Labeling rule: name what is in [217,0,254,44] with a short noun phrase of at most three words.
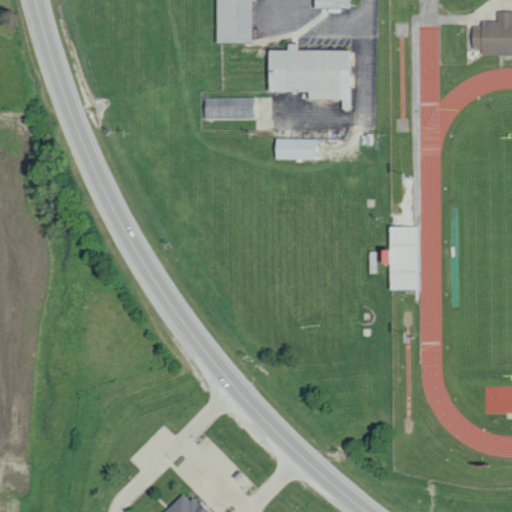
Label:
barn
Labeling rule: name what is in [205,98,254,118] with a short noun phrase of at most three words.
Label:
greenhouse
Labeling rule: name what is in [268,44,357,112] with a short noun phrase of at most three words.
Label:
building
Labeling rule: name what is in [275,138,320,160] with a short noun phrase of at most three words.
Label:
shed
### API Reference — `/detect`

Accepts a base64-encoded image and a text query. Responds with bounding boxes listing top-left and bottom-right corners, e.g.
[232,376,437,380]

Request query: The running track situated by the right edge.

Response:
[420,27,512,456]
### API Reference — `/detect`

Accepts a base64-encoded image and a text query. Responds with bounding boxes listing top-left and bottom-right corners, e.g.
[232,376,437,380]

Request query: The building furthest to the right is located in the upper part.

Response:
[472,10,512,54]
